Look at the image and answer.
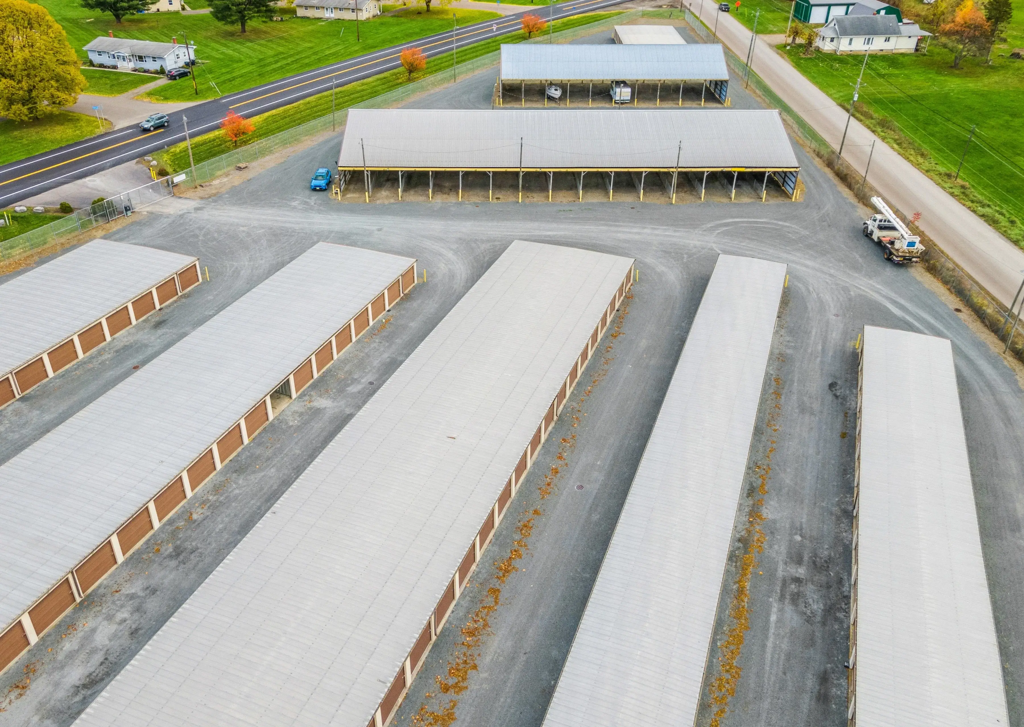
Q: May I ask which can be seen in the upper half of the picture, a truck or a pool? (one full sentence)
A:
You can see a truck in the upper half of the picture.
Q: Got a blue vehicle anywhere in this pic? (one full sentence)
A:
Yes, a blue vehicle is visible in the scene.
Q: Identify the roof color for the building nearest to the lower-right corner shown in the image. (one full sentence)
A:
From above, the roof of the building nearest to the lower-right corner looks white.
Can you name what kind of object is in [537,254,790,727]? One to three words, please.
building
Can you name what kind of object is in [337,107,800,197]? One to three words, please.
shed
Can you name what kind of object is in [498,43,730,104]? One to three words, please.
shed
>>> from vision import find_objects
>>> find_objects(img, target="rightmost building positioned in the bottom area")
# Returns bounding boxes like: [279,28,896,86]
[838,325,1010,727]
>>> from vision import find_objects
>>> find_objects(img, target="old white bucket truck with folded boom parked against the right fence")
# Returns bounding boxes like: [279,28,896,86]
[864,197,927,267]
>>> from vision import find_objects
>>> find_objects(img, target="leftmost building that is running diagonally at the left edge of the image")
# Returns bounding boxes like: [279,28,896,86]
[0,238,201,416]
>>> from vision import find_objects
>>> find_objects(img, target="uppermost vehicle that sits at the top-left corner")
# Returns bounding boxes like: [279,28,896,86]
[166,66,191,79]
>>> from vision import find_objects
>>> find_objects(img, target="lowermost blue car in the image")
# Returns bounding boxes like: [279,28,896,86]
[310,167,332,189]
